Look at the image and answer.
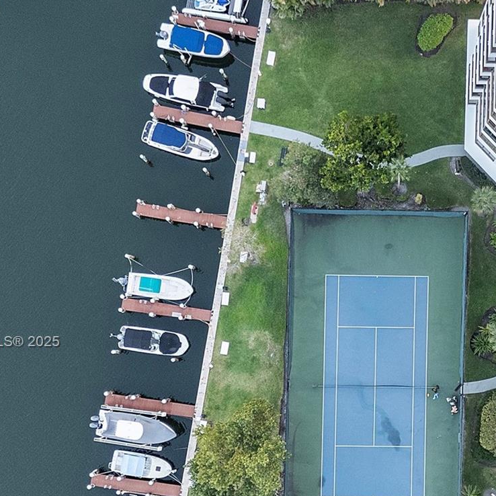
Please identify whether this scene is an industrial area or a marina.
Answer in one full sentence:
The area seen from above is a marina.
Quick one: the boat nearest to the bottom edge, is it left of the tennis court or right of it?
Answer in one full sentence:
The boat nearest to the bottom edge appears to the left of the tennis court in this view.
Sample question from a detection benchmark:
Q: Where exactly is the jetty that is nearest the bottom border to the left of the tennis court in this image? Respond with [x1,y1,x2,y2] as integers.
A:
[90,474,182,496]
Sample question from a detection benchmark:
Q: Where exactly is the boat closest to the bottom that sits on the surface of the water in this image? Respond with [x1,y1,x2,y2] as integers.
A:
[109,448,175,478]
